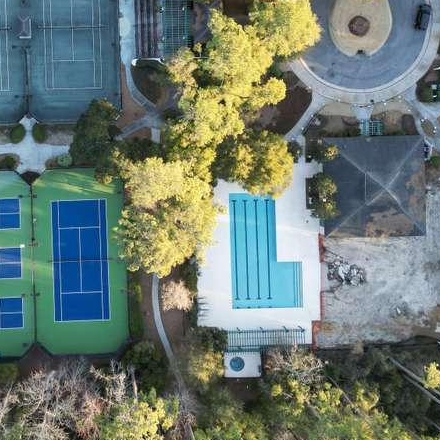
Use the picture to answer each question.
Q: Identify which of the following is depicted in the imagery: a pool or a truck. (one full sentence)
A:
The one in the frame is a pool.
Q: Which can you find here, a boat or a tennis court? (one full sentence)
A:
The image shows a tennis court.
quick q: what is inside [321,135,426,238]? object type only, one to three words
building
